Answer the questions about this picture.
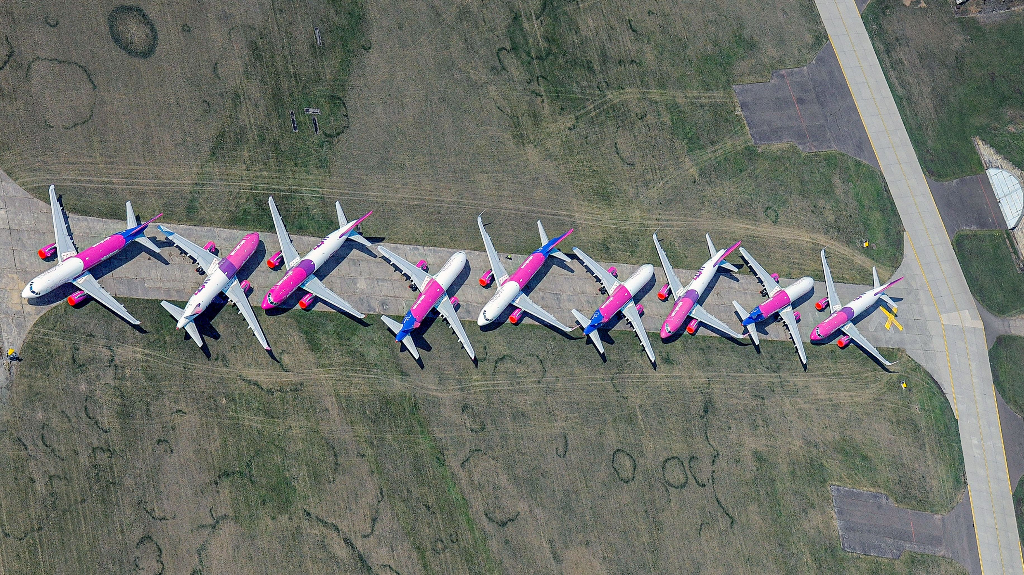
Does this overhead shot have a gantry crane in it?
No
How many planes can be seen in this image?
9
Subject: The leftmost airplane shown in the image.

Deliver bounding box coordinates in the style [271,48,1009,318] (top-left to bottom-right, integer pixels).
[21,184,163,325]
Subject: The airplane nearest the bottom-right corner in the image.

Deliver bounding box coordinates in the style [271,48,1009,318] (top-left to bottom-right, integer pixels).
[809,247,903,363]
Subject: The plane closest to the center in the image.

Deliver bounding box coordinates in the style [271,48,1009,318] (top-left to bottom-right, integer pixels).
[477,208,580,329]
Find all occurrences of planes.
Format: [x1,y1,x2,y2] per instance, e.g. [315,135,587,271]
[570,247,656,362]
[375,246,476,360]
[733,247,814,363]
[477,208,580,329]
[158,227,267,348]
[654,225,752,337]
[21,184,163,325]
[261,195,372,318]
[809,247,903,363]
